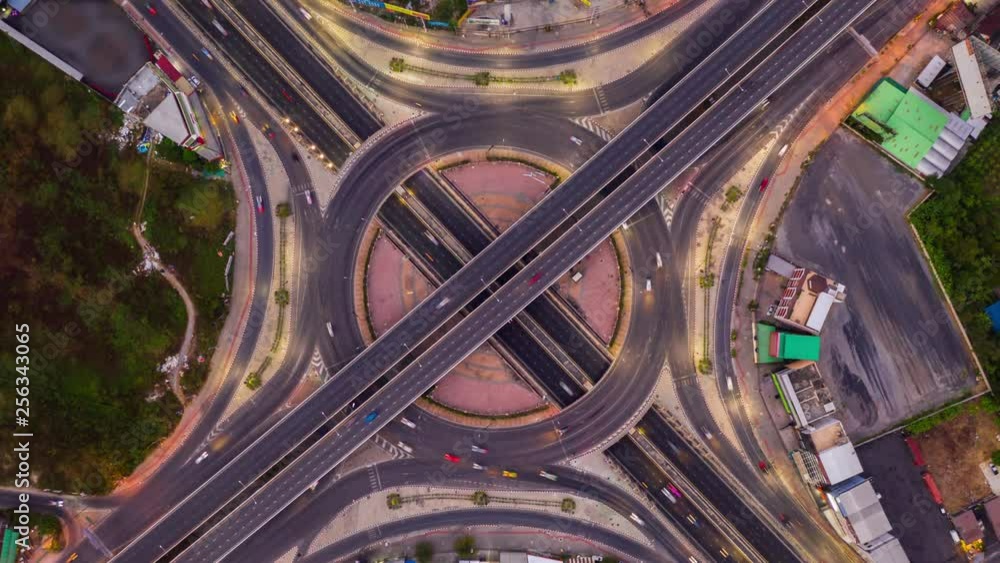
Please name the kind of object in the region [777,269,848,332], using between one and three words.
building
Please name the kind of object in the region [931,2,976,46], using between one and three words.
house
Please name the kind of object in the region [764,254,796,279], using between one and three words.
shed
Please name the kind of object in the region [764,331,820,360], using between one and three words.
building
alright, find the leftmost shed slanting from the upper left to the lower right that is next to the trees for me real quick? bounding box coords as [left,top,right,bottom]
[0,20,90,84]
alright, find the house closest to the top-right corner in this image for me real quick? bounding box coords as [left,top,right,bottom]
[967,2,1000,43]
